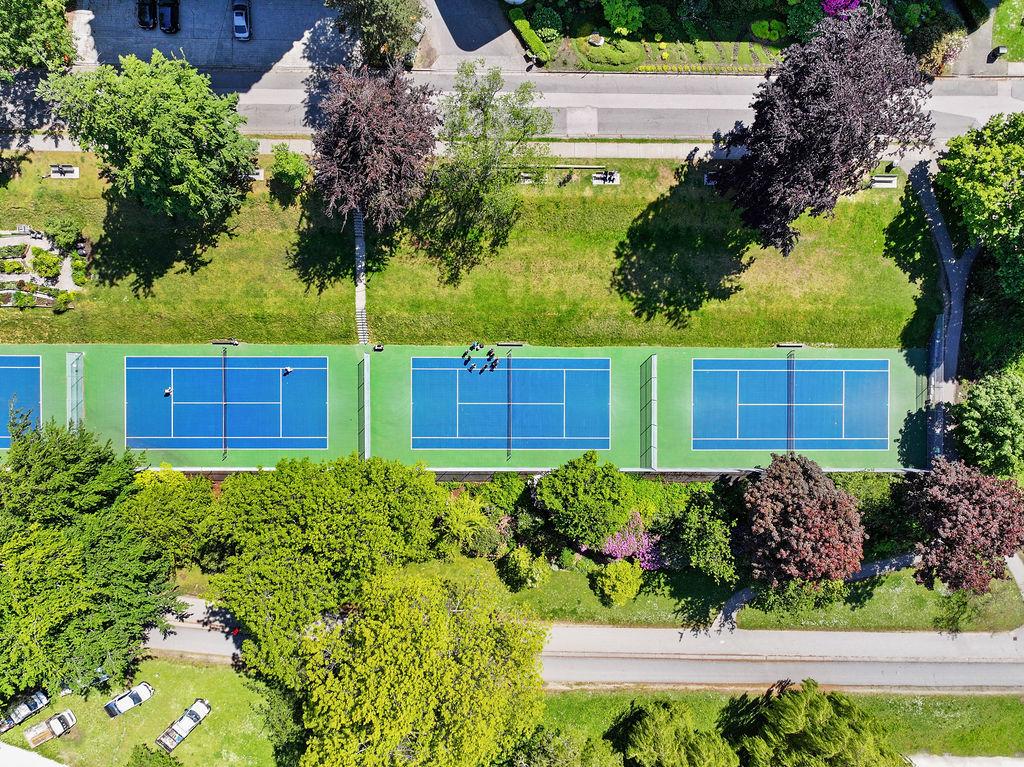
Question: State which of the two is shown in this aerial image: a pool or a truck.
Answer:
truck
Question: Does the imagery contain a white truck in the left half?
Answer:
Yes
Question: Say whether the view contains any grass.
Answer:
Yes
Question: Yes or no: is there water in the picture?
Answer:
No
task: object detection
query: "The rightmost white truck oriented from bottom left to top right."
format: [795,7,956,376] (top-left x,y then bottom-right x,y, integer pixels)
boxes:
[156,698,211,754]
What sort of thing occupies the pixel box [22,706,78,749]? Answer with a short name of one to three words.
truck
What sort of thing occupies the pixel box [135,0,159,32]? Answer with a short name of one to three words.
car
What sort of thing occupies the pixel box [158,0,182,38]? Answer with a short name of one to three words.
car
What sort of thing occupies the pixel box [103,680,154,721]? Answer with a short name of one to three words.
truck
